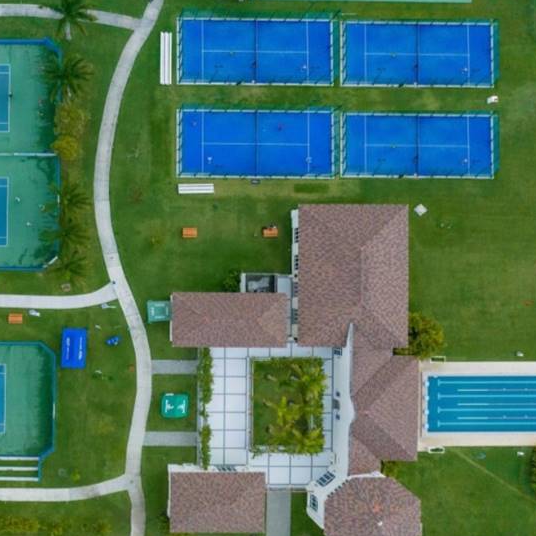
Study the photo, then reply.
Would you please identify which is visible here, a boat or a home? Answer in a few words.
home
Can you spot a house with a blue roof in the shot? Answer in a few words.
No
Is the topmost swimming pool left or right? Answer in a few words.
right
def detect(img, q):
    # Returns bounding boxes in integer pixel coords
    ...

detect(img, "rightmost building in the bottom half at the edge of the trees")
[289,205,422,536]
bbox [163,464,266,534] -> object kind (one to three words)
house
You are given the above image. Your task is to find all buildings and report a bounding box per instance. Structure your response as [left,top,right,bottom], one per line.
[289,205,422,536]
[163,464,266,534]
